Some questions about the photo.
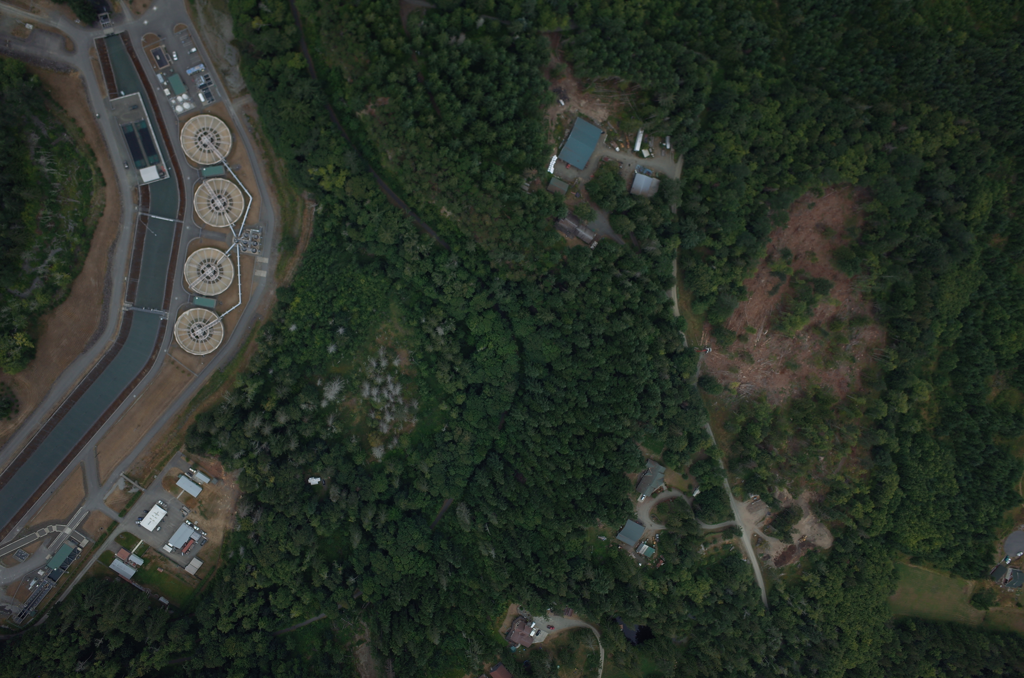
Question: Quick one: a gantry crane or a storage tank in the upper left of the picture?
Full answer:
Visible in the upper left of the picture is a storage tank.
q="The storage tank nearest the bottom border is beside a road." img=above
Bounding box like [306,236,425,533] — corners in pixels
[174,307,226,356]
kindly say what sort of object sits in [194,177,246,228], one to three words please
storage tank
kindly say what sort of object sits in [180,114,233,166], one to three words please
storage tank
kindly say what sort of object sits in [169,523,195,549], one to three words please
building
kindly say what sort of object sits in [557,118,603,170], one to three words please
barn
